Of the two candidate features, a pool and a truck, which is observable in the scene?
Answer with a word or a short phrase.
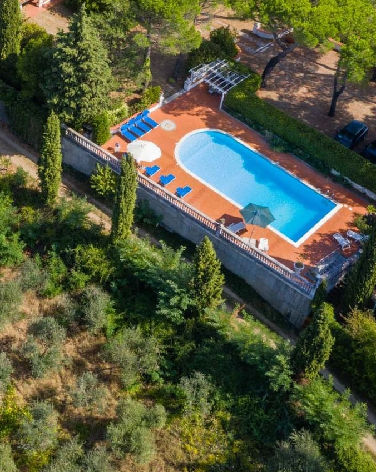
pool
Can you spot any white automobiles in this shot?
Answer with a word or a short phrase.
No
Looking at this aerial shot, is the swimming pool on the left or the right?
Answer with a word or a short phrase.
right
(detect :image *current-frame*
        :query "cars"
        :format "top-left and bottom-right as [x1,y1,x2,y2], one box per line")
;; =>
[360,139,376,164]
[333,120,370,150]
